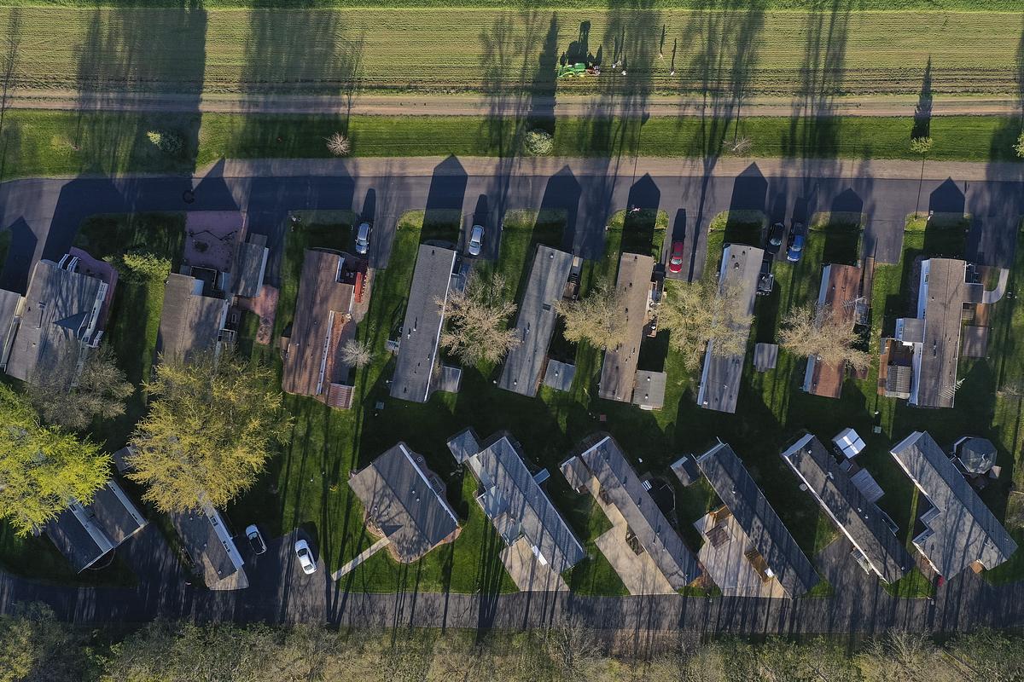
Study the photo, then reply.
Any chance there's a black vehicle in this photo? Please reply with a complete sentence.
Yes, there's a black vehicle here.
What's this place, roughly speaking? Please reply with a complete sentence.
It's a residential area.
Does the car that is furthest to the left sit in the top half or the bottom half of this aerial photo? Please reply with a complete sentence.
Seen from above, the car that is furthest to the left lies in the bottom half of the view.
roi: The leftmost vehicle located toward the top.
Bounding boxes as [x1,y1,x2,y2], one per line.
[354,222,372,256]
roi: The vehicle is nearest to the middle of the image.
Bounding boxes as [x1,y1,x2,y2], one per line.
[467,224,484,257]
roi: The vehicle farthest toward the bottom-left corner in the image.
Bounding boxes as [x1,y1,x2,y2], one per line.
[245,523,268,557]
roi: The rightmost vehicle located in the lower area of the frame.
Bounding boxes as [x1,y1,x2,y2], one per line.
[294,538,317,575]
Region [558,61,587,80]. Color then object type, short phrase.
green work vehicle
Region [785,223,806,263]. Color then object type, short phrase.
blue truck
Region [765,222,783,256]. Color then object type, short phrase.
black car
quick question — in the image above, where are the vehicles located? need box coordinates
[558,61,587,80]
[785,223,806,263]
[245,523,268,557]
[294,538,317,575]
[354,222,372,256]
[467,224,484,257]
[667,240,684,274]
[765,222,783,256]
